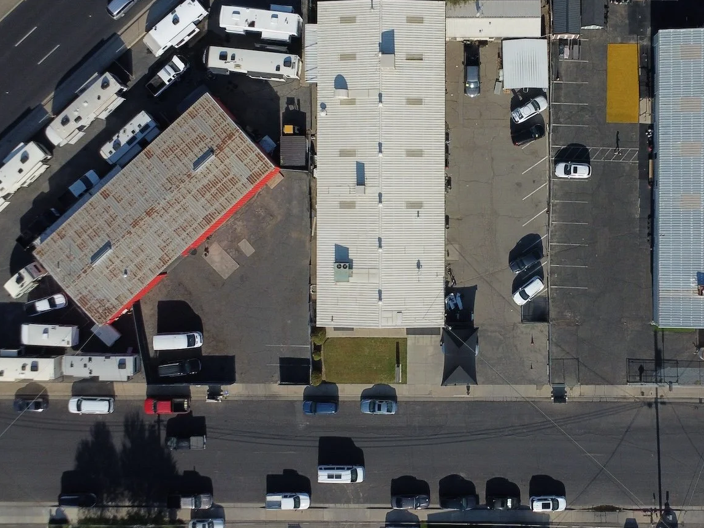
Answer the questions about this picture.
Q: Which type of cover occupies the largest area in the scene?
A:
paved ground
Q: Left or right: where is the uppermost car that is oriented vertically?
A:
right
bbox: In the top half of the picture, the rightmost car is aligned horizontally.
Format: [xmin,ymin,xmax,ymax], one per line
[554,162,591,180]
